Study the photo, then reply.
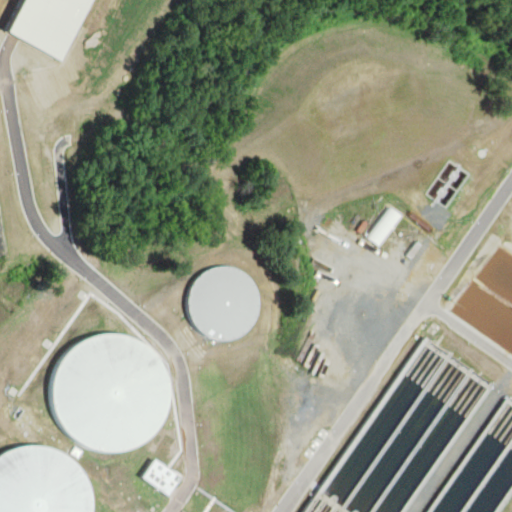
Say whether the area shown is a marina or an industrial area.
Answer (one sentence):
What you see here is an industrial area.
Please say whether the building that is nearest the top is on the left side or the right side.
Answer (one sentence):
The building that is nearest the top is on the left side of the image.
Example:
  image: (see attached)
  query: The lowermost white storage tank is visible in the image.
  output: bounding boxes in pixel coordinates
[0,444,96,512]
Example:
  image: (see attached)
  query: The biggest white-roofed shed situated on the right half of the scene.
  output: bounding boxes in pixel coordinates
[364,206,403,248]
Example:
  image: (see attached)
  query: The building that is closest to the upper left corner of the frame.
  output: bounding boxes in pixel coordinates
[8,0,96,62]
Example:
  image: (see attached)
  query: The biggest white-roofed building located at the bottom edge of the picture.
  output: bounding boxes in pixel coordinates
[140,458,184,498]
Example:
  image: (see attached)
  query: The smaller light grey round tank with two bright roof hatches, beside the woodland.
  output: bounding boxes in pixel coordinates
[184,266,260,339]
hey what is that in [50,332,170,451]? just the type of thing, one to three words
storage tank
